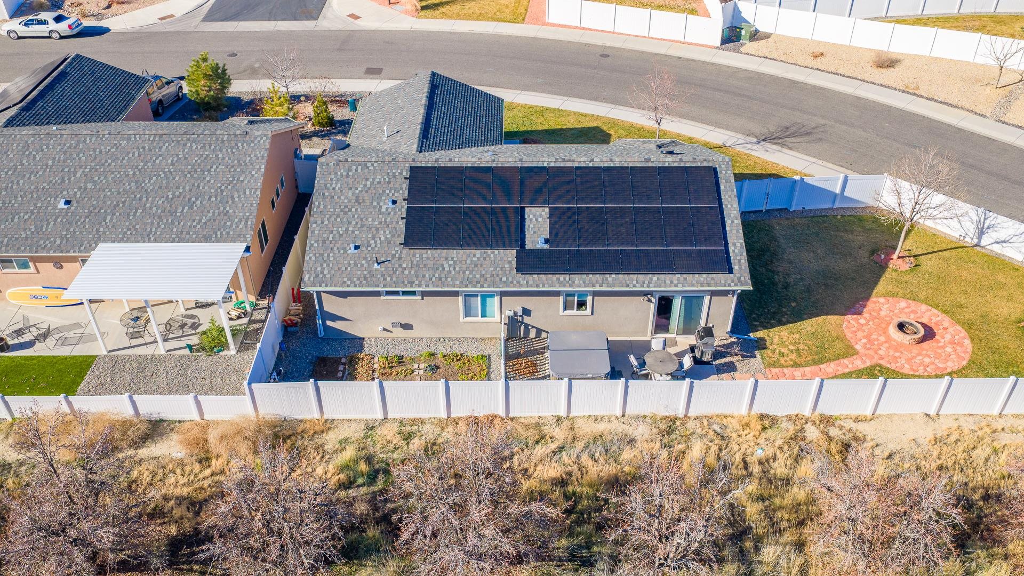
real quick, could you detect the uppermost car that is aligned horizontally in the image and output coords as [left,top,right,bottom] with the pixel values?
[0,9,83,39]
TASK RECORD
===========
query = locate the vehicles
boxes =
[134,70,186,119]
[0,9,83,39]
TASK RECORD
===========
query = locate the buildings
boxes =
[0,57,306,300]
[300,73,757,341]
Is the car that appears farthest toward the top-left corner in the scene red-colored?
No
